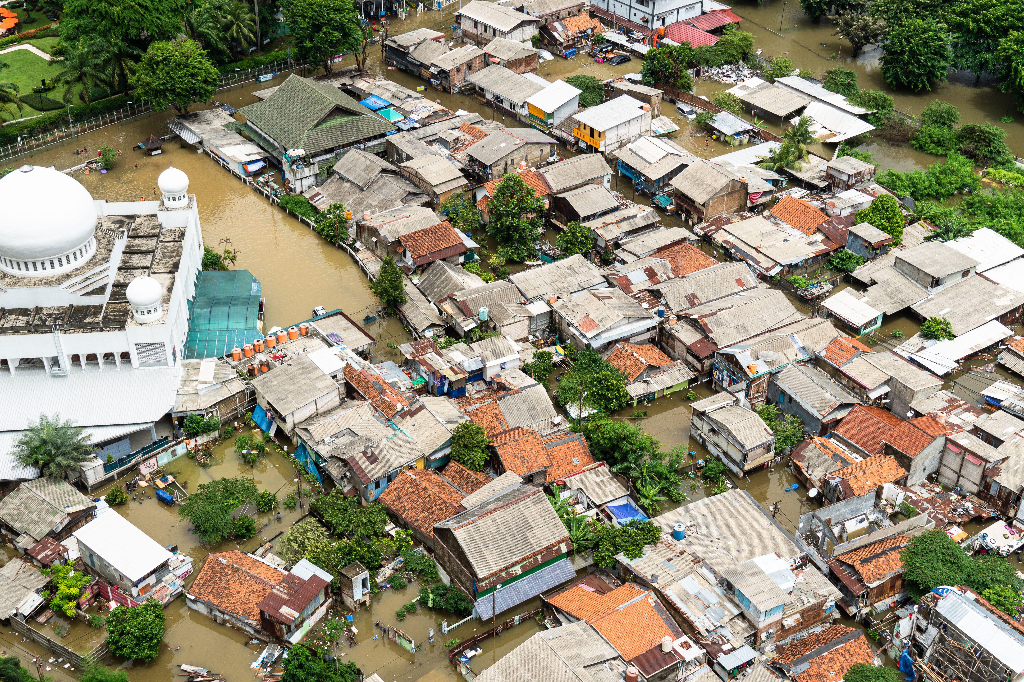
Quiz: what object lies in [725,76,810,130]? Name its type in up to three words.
shed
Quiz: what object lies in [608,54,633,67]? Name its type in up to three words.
vehicle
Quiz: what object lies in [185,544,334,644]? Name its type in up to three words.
house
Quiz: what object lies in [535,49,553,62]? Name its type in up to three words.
vehicle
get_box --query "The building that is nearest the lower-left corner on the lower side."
[0,558,51,635]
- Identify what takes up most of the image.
buildings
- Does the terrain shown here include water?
Yes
